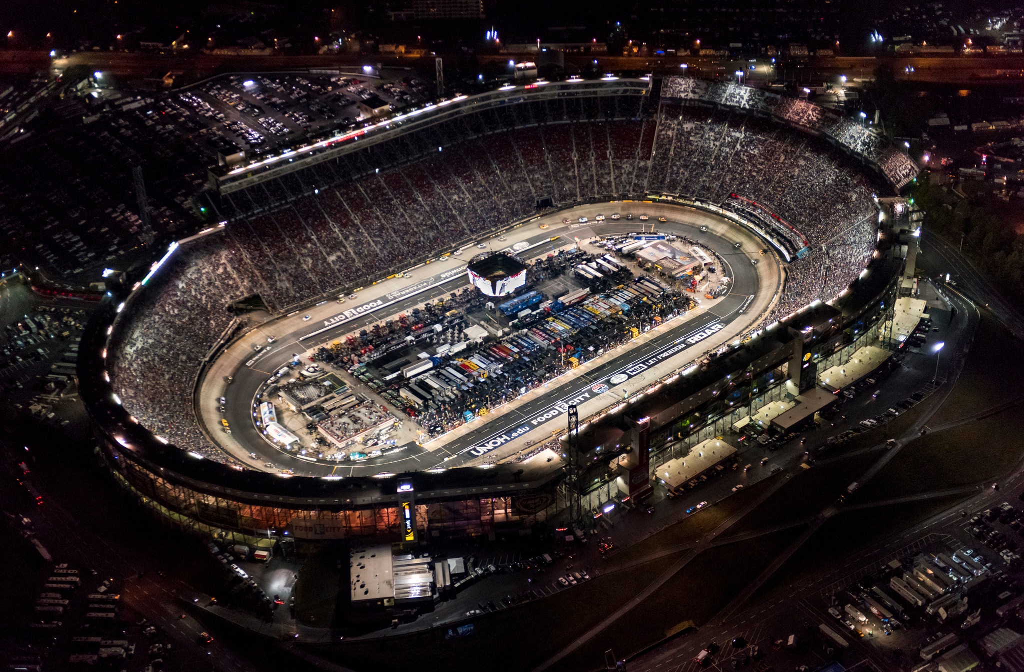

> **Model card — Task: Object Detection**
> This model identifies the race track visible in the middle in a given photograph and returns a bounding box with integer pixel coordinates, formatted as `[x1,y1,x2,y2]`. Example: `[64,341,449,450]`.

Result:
[199,202,781,475]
